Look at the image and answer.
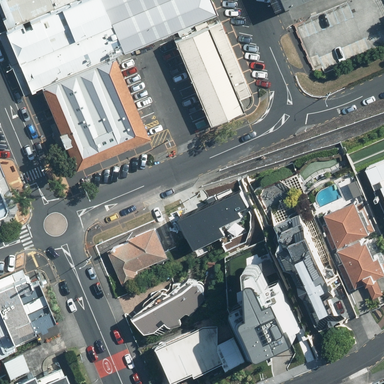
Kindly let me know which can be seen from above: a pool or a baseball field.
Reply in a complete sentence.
There is a pool in the scene.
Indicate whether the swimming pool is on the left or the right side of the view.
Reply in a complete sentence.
The swimming pool is on the right side of the image.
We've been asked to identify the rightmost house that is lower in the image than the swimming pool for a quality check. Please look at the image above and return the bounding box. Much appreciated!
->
[324,203,384,300]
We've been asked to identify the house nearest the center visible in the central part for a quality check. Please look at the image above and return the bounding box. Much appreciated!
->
[168,190,250,256]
